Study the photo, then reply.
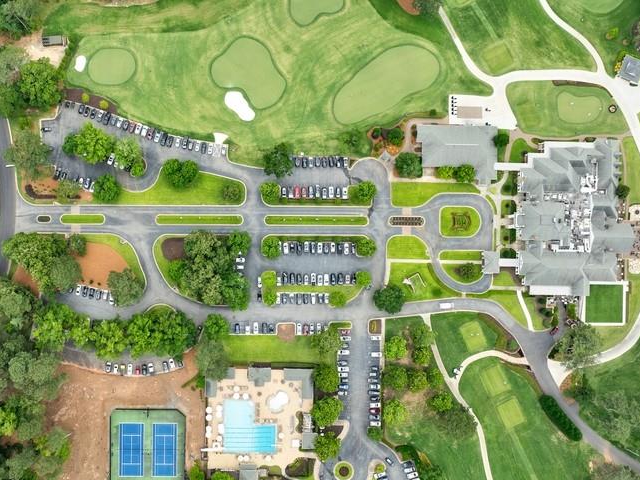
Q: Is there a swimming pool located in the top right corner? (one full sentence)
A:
No, no swimming pool appears in the top right corner.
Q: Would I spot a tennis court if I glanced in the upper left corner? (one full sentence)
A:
No, no tennis court appears in the upper left corner.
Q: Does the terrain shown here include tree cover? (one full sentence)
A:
Yes, there is tree cover in the image.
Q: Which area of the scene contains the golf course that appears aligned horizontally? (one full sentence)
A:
The golf course that appears aligned horizontally appears toward the top of the photo.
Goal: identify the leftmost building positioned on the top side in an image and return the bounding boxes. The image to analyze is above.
[415,125,498,188]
